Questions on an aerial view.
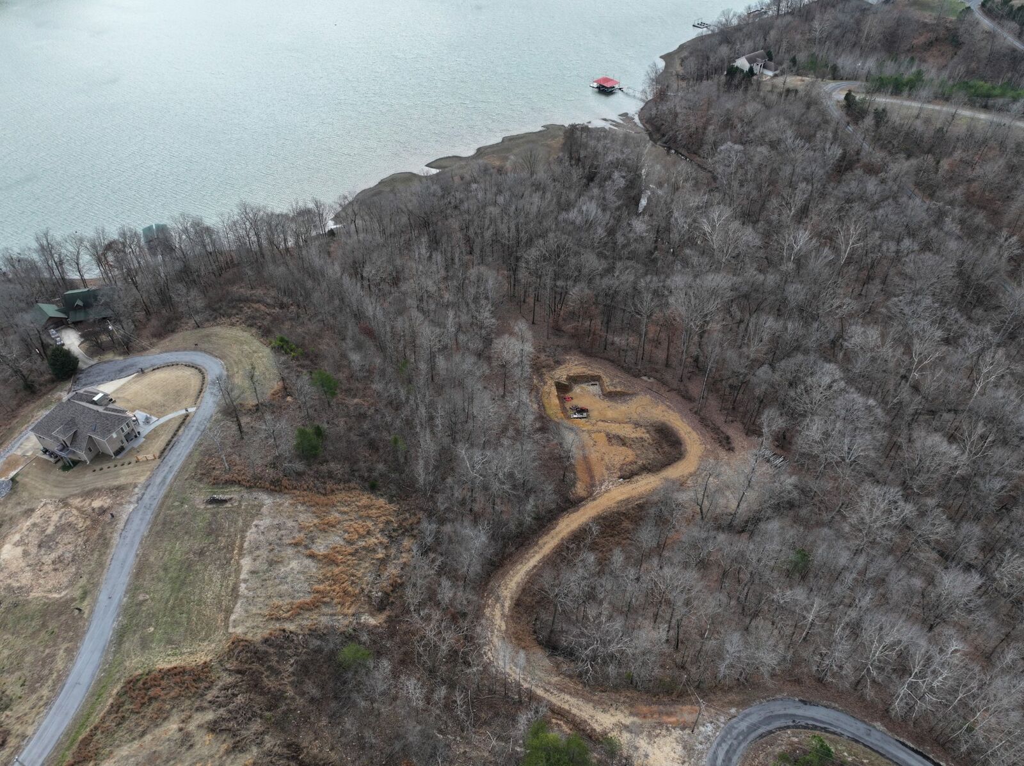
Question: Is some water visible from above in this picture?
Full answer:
Yes, there is water in the image.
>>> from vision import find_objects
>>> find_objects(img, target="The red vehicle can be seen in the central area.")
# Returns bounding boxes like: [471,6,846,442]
[567,401,593,414]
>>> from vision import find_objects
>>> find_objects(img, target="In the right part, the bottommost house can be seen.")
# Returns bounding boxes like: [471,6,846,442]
[730,49,784,75]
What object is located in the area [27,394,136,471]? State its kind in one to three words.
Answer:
house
